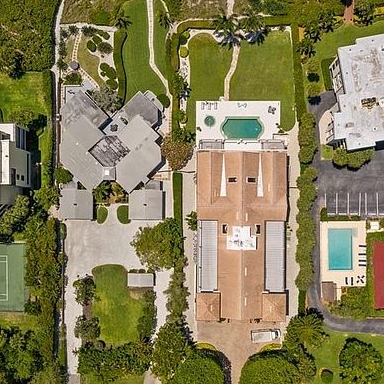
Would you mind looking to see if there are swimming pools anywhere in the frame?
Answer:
Yes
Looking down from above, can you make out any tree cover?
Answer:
Yes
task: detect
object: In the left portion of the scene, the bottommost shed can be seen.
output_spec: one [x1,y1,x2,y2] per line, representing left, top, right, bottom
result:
[128,273,154,287]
